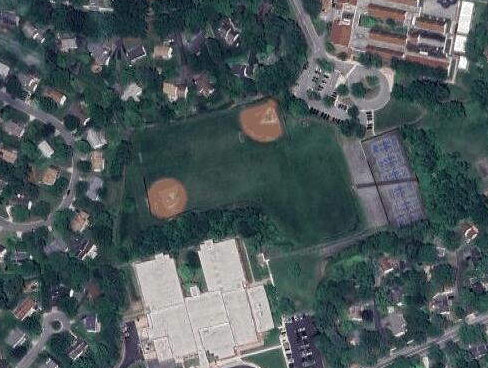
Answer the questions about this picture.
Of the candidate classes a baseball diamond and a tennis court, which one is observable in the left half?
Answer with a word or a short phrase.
baseball diamond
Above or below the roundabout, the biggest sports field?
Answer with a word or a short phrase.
below it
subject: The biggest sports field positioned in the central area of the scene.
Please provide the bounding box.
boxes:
[121,98,368,244]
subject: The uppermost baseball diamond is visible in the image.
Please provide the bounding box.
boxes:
[240,99,283,142]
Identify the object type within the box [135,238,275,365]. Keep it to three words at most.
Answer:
building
